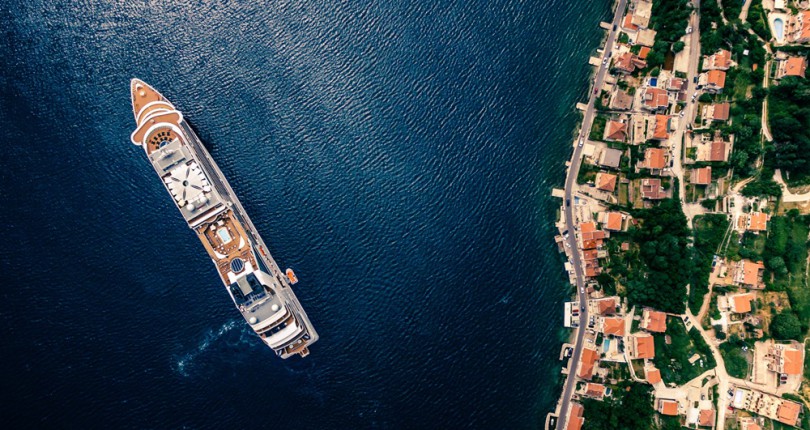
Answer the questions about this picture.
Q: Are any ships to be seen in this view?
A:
Yes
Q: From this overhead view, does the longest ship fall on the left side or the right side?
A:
left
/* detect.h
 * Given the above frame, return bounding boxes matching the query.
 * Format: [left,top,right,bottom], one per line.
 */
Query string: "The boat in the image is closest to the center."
[286,266,300,281]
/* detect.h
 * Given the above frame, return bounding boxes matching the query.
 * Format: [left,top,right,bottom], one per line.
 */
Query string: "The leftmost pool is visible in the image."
[215,228,232,246]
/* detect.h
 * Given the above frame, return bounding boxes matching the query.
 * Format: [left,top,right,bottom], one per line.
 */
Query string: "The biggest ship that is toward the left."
[132,77,313,357]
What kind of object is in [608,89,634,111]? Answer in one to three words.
house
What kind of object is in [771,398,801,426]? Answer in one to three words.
building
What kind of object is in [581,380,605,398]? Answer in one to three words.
house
